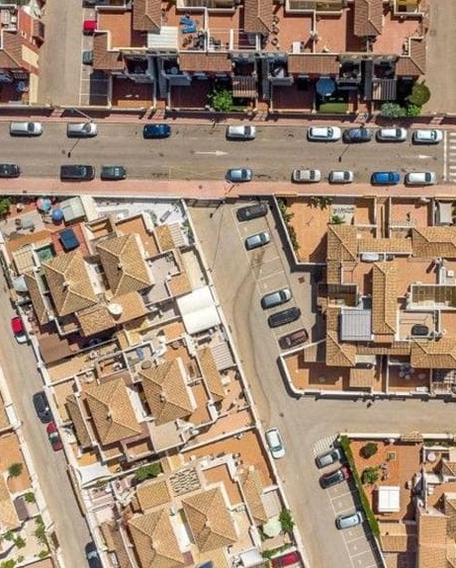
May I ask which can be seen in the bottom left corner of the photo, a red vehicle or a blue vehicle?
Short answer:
red vehicle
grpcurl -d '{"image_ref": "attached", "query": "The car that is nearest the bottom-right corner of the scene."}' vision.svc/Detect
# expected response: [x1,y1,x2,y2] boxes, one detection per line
[335,511,363,529]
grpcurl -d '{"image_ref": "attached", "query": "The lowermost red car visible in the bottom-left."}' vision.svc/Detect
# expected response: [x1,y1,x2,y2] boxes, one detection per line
[44,421,64,450]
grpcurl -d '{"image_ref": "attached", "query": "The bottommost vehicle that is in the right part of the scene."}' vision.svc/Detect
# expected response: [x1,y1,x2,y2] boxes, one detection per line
[270,549,302,568]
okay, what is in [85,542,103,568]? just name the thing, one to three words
car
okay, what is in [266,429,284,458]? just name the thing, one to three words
car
